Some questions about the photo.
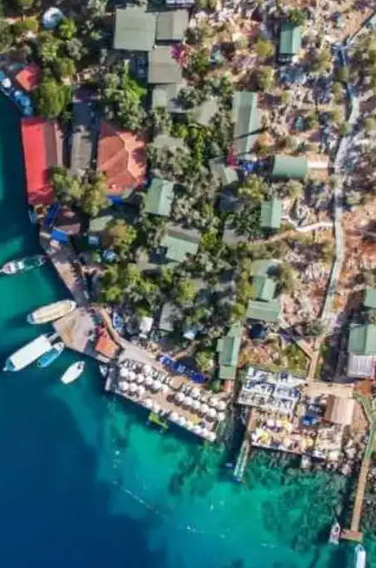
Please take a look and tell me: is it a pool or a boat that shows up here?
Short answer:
boat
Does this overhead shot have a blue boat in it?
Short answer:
Yes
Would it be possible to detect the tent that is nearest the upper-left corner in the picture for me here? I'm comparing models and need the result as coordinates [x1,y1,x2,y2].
[41,7,63,29]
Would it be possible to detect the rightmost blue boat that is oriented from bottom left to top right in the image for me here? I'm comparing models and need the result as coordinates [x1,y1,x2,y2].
[37,344,63,370]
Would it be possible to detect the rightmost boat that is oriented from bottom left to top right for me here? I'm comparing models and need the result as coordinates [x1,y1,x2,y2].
[61,358,86,383]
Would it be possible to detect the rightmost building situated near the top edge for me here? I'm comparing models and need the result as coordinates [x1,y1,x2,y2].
[275,22,302,56]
